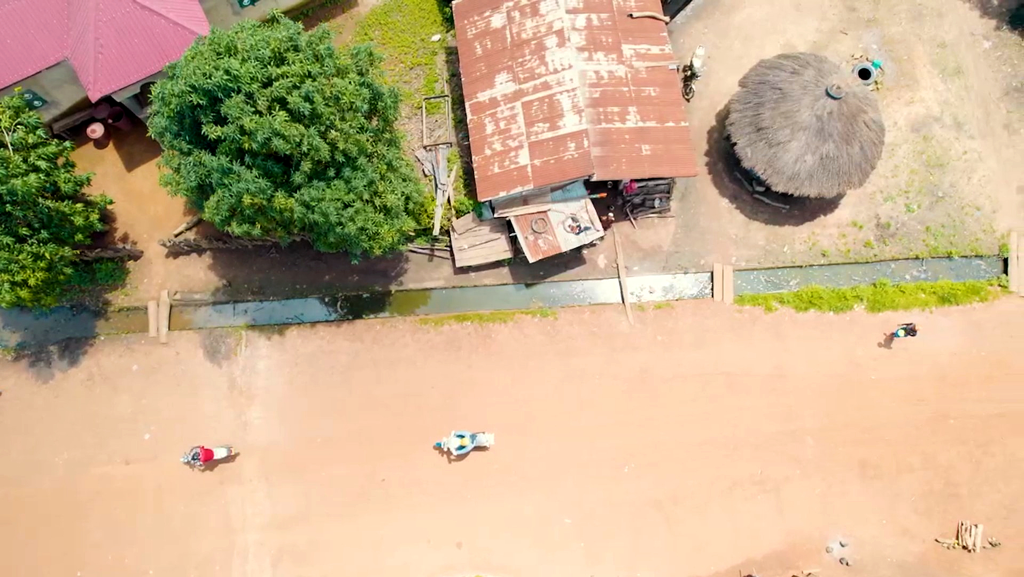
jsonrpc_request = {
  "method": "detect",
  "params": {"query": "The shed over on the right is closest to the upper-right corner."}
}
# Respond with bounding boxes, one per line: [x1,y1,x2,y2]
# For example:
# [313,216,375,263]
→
[724,54,886,202]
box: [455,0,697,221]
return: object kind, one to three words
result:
building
